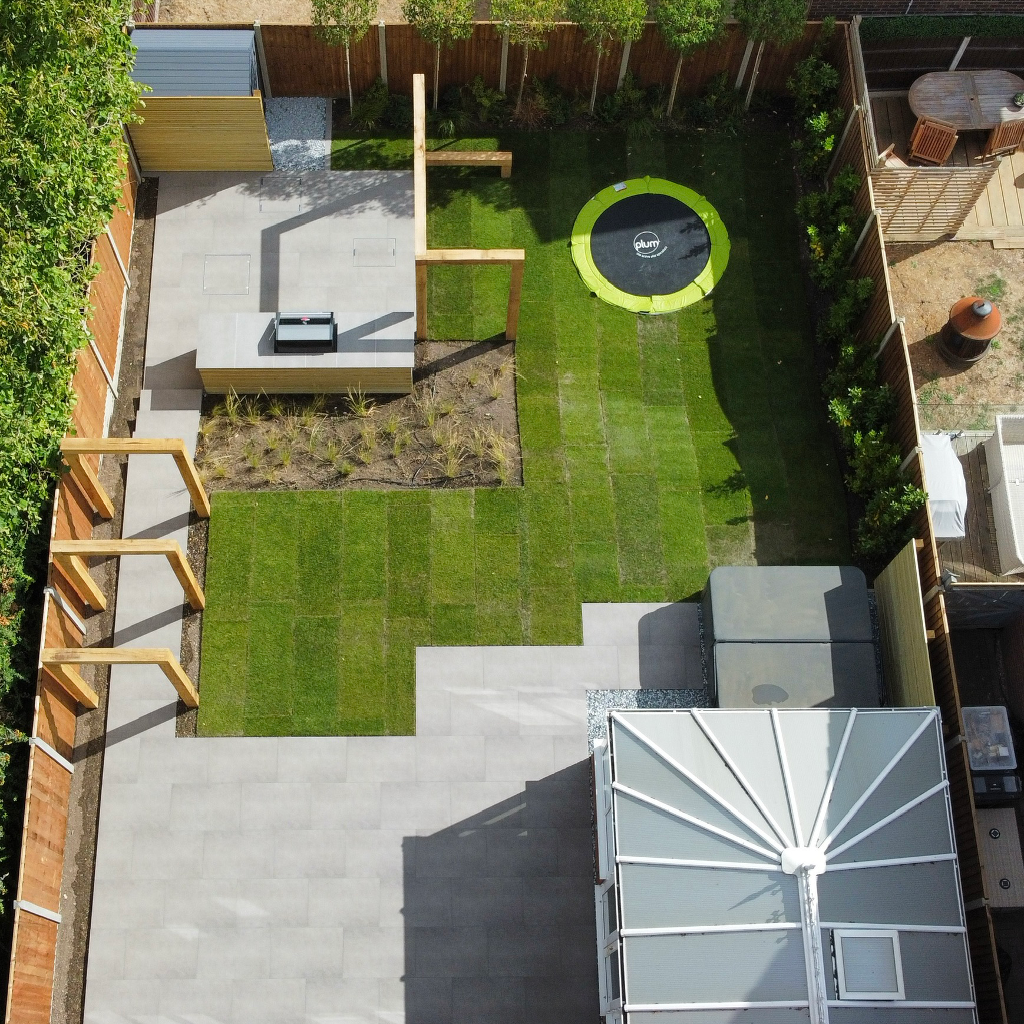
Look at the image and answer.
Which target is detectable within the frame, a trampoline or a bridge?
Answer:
trampoline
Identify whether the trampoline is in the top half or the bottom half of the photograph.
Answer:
top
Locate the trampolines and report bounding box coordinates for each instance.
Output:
[570,173,732,315]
